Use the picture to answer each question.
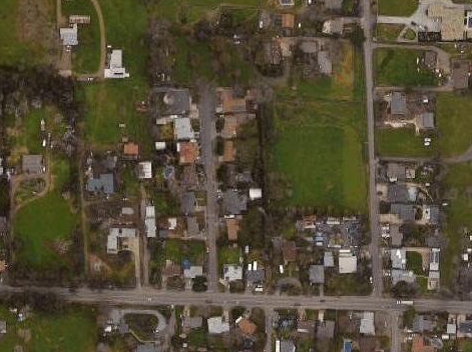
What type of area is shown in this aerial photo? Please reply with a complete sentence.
The picture captures a residential area.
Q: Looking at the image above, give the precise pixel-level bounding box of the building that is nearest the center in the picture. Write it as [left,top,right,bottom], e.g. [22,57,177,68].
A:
[226,166,252,184]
